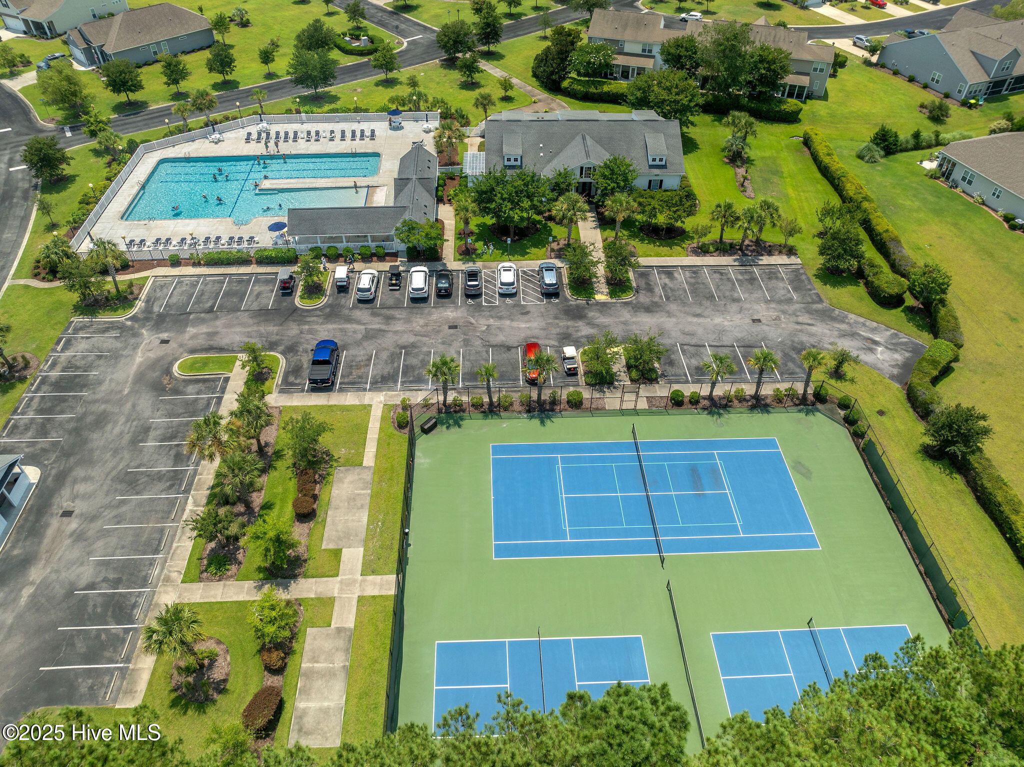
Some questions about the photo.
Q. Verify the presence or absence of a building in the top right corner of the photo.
Yes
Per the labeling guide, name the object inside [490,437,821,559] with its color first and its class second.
blue tennis court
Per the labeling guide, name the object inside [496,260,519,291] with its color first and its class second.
white car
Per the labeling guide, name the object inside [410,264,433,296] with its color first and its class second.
white car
